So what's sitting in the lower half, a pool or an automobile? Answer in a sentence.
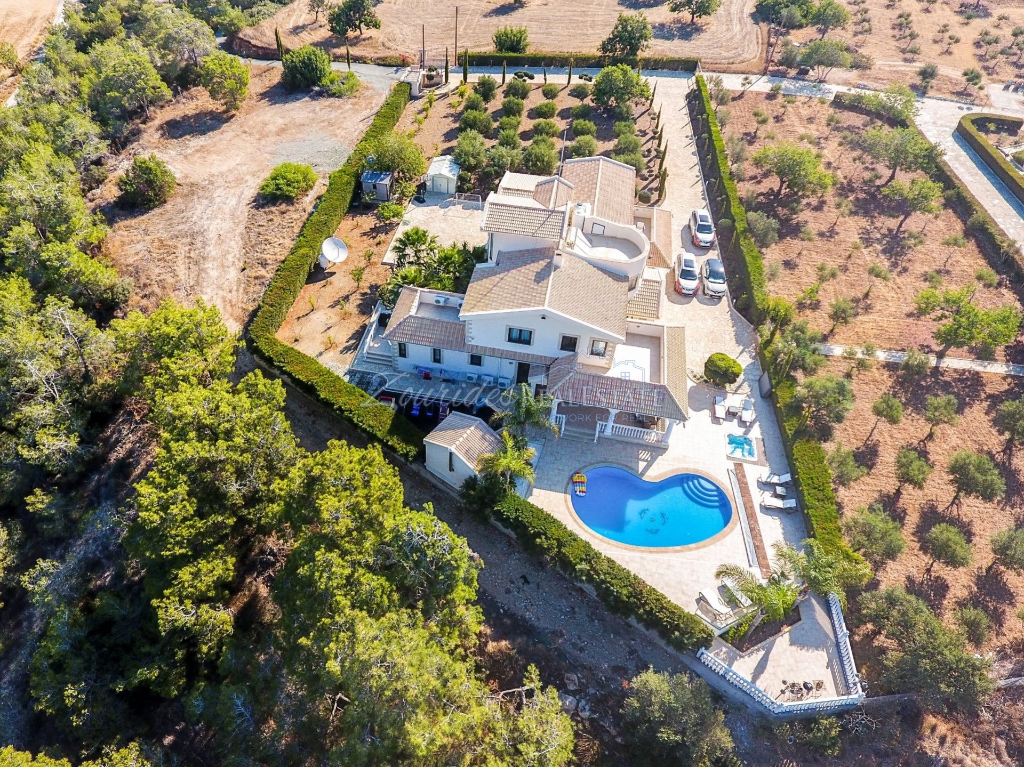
There is a pool in the lower half.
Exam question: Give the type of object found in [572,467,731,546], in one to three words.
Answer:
swimming pool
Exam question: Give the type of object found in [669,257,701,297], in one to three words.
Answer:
car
